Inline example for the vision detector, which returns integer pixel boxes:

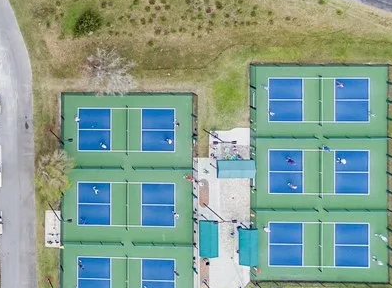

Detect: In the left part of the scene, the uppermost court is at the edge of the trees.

[65,95,193,169]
